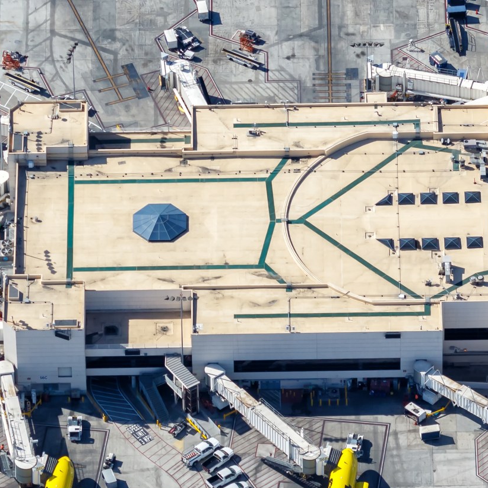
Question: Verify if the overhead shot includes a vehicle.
Yes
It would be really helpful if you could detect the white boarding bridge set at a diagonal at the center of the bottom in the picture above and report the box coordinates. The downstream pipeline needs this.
[207,364,339,481]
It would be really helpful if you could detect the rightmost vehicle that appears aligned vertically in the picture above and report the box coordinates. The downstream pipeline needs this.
[448,14,460,52]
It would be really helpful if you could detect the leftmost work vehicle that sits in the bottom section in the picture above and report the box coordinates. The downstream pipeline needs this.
[66,413,84,446]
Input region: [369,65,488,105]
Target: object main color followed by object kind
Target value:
white jet bridge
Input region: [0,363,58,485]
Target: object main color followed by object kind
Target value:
white jet bridge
